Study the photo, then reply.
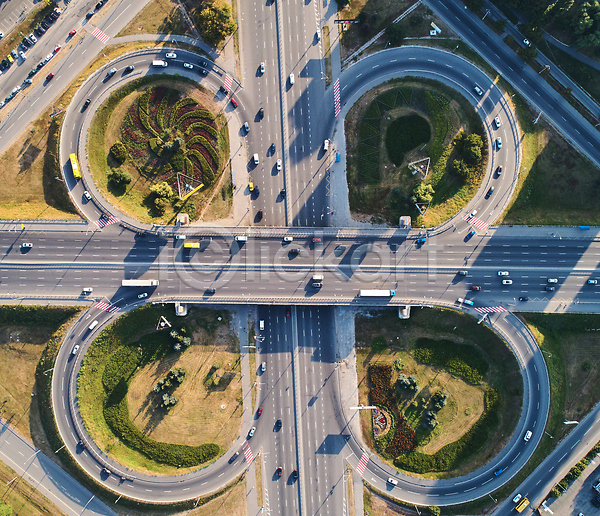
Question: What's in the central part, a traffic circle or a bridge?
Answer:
bridge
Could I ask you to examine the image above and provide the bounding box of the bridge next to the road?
[156,225,434,306]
